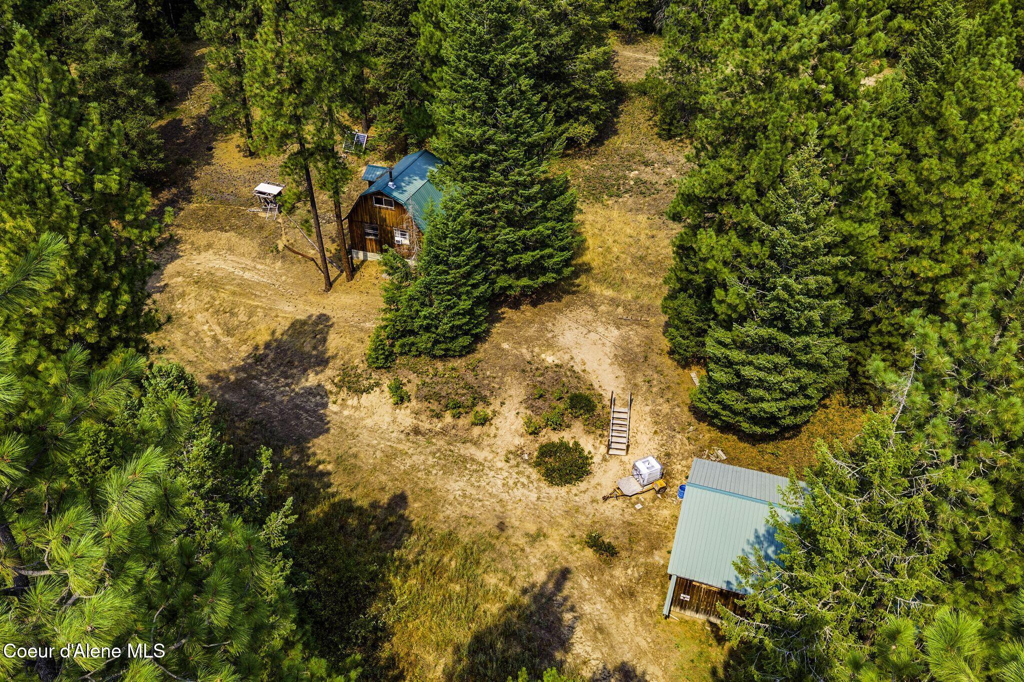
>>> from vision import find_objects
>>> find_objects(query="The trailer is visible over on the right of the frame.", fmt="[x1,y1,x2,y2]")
[599,466,667,503]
